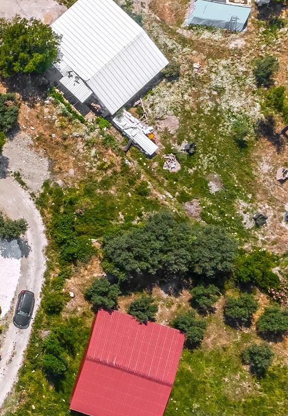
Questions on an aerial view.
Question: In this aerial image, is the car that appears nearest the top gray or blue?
gray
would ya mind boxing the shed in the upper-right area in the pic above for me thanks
[186,0,251,31]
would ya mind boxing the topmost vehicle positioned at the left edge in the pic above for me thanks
[11,290,34,328]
